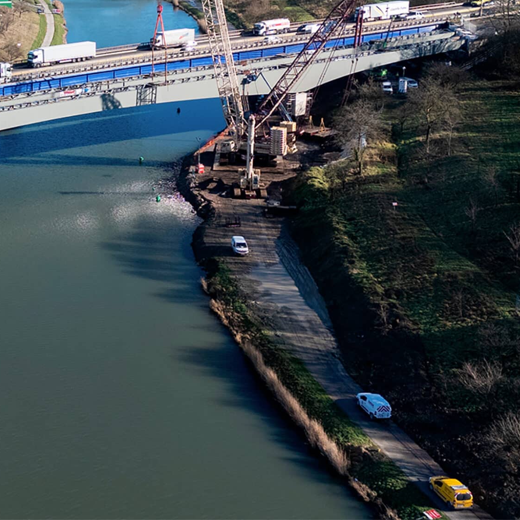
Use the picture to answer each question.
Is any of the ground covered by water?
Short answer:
Yes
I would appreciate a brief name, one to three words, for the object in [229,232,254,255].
vehicle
